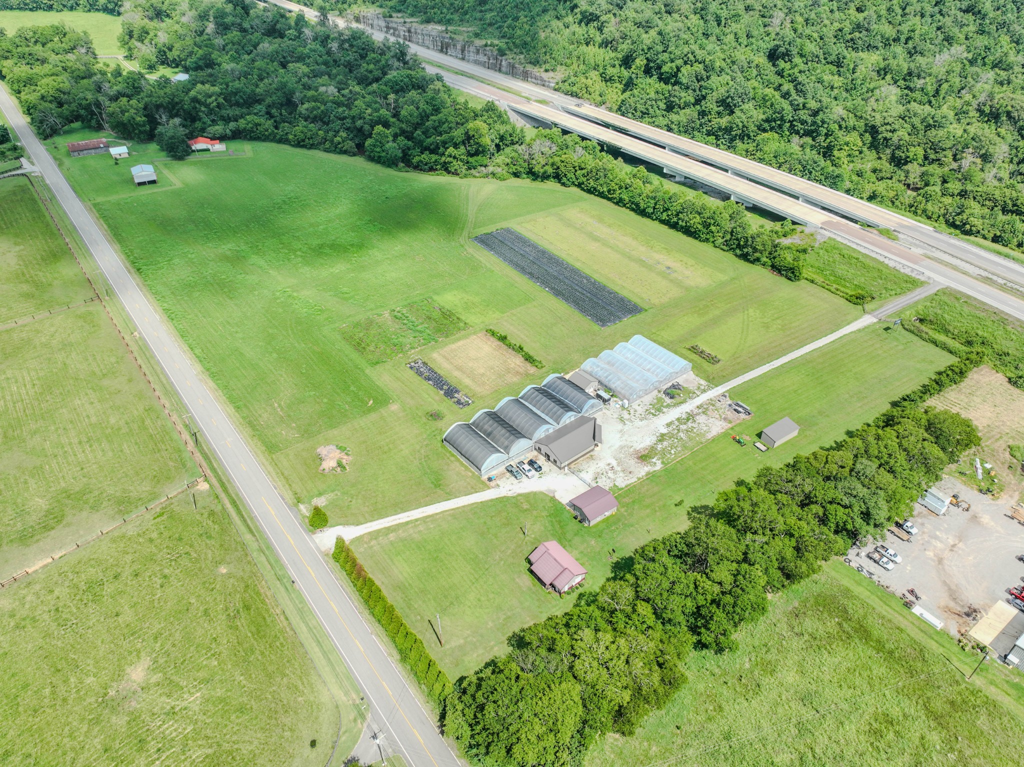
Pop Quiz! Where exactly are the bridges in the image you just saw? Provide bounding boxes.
[535,94,873,217]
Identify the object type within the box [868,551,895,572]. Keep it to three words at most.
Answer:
truck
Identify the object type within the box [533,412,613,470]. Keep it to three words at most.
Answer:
barn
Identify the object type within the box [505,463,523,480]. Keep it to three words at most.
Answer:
vehicle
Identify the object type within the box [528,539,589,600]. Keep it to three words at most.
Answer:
house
